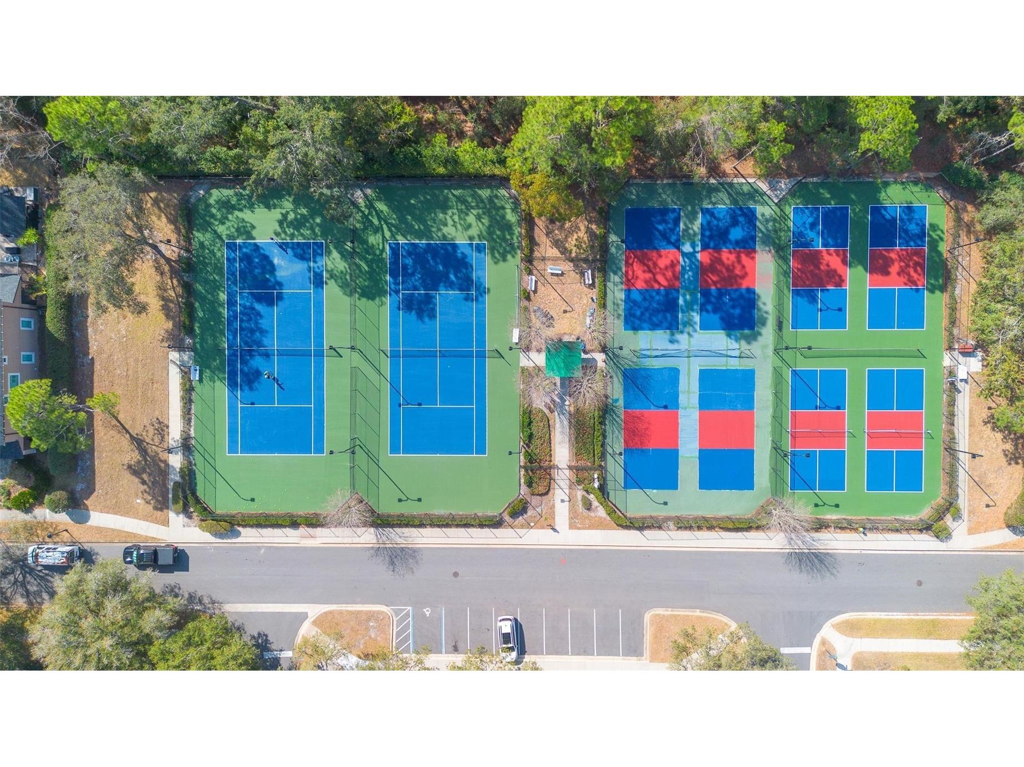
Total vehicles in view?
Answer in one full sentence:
In total, 3 vehicles can be seen.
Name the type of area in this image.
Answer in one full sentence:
It's a sports ground.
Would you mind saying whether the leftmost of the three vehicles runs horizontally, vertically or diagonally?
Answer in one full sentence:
In this picture, the leftmost of the three vehicles is oriented horizontally.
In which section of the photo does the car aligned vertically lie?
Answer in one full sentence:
The car aligned vertically is in the bottom part of the image.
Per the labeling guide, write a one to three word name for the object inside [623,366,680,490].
sports court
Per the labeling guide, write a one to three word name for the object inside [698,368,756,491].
sports court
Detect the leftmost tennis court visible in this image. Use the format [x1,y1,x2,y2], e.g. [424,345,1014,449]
[193,187,358,514]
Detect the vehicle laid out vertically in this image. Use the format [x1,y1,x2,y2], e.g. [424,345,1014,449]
[498,616,518,660]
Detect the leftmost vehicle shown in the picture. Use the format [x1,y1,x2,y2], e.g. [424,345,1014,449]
[32,543,83,565]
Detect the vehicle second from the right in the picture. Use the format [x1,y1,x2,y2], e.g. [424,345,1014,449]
[125,543,180,566]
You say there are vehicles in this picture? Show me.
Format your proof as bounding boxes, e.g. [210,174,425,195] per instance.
[32,543,83,565]
[498,616,518,660]
[125,543,180,566]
